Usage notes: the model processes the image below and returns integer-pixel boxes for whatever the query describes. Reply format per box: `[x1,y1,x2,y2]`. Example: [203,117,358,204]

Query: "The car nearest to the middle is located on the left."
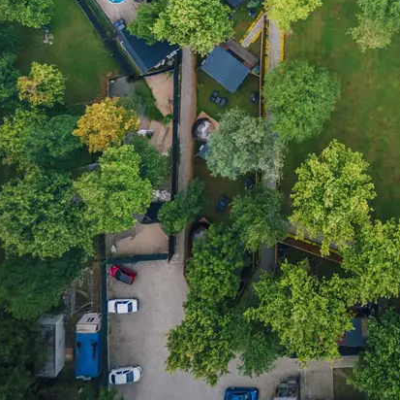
[109,266,137,285]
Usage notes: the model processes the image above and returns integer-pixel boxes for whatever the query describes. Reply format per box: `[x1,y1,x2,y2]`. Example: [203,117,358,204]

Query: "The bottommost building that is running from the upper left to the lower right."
[194,142,231,185]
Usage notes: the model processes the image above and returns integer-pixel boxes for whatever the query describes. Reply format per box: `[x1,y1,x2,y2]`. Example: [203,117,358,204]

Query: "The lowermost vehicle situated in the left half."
[110,365,141,384]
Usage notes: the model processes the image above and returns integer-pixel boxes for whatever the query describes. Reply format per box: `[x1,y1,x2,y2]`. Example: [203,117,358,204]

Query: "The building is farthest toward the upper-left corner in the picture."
[119,27,178,74]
